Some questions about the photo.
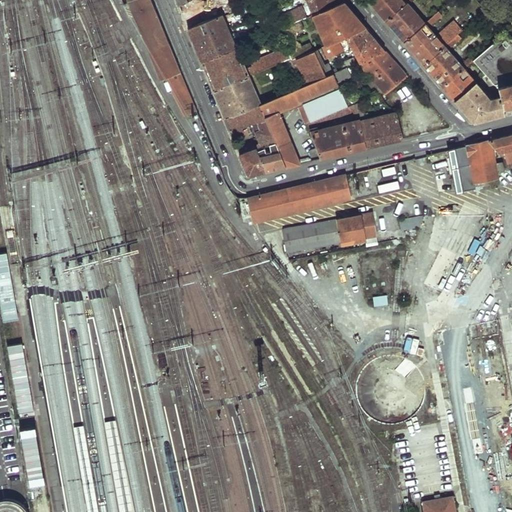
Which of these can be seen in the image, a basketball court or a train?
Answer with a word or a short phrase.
train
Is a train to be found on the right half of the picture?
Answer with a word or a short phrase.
No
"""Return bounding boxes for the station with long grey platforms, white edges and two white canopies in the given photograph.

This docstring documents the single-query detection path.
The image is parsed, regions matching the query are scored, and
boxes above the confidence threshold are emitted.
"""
[20,240,264,512]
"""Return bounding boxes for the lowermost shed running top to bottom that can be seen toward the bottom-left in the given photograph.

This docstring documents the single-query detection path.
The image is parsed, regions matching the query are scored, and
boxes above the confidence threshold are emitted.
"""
[19,430,44,490]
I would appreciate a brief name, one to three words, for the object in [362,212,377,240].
shed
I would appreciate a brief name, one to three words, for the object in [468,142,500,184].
building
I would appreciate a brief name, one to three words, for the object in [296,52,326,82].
house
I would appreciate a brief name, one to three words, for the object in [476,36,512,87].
building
